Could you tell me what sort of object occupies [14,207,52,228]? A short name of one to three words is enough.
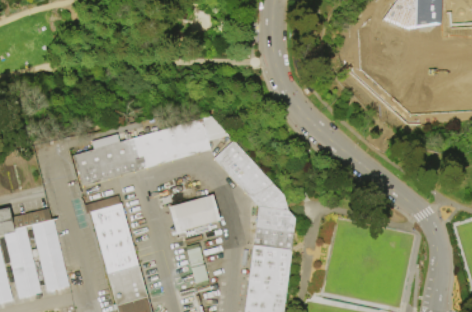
building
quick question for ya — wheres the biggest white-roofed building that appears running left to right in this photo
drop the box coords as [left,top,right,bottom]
[74,120,210,185]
